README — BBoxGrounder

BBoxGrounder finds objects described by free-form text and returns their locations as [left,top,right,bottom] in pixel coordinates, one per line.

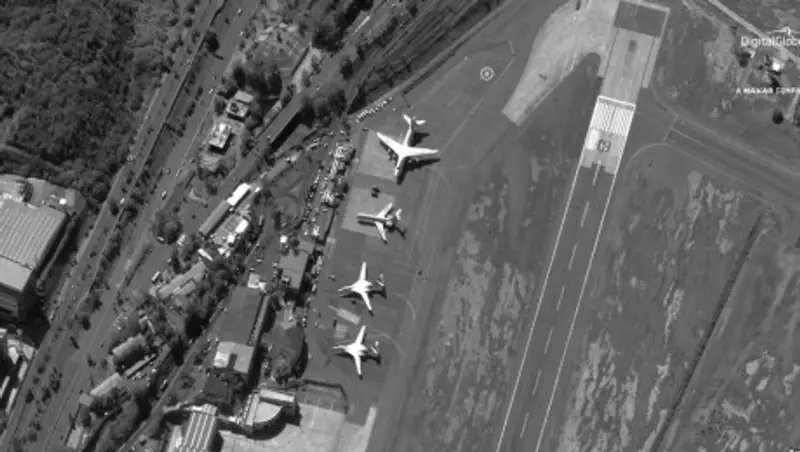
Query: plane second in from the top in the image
[357,205,402,241]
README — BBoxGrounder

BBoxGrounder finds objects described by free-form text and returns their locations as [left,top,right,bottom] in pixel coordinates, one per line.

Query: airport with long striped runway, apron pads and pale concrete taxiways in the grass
[217,0,800,452]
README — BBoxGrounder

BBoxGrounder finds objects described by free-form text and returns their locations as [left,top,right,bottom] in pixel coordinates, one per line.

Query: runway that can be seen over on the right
[495,0,670,452]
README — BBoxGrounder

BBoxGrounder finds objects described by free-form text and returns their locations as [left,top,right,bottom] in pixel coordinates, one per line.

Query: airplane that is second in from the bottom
[339,262,385,311]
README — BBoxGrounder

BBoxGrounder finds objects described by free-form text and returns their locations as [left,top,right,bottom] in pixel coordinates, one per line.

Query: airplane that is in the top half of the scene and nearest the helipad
[376,106,438,177]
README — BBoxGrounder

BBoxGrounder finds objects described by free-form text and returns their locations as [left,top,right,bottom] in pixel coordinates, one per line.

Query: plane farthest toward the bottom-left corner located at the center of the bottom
[333,326,379,374]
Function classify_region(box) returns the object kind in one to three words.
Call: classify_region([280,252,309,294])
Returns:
building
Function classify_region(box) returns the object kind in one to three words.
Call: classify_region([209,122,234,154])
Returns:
house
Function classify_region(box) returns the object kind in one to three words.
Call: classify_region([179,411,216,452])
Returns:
hangar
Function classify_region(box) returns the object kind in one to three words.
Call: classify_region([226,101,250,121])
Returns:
house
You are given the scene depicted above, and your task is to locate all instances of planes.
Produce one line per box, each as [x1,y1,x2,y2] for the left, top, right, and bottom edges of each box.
[376,106,438,177]
[357,205,402,241]
[333,326,379,374]
[339,262,385,311]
